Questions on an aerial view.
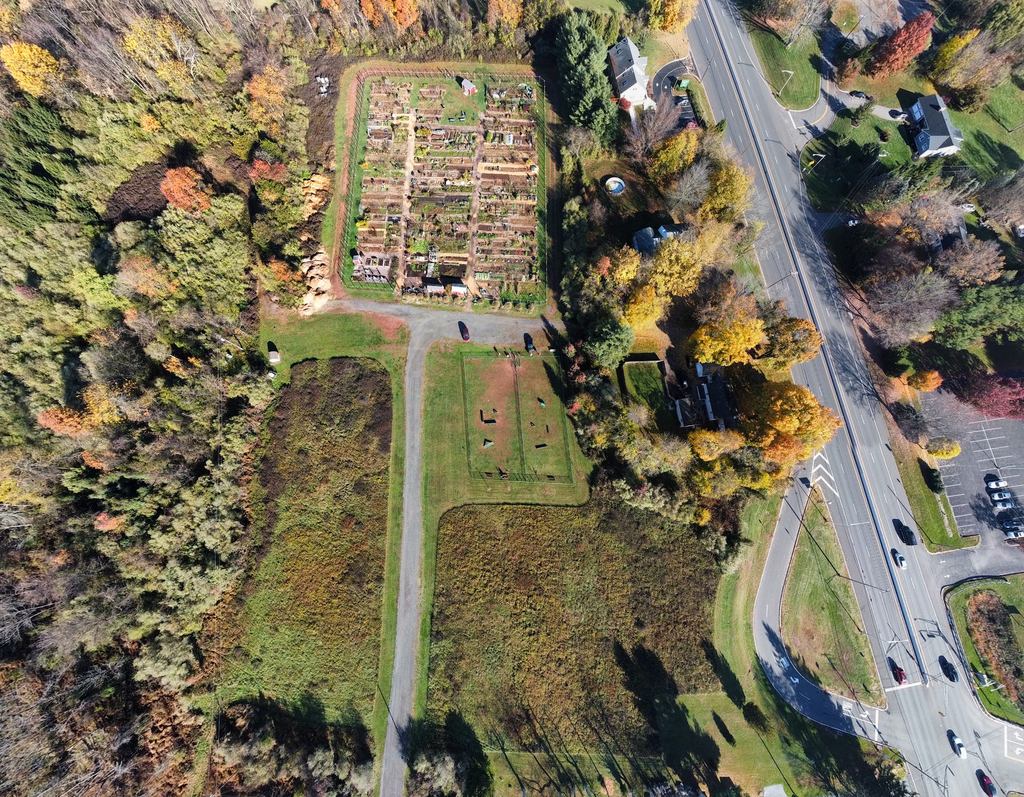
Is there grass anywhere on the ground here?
Yes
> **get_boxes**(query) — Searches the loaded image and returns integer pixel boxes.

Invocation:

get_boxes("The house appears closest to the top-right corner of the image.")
[905,90,965,161]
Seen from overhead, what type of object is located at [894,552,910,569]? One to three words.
car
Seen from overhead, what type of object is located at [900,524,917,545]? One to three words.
vehicle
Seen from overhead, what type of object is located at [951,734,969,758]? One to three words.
car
